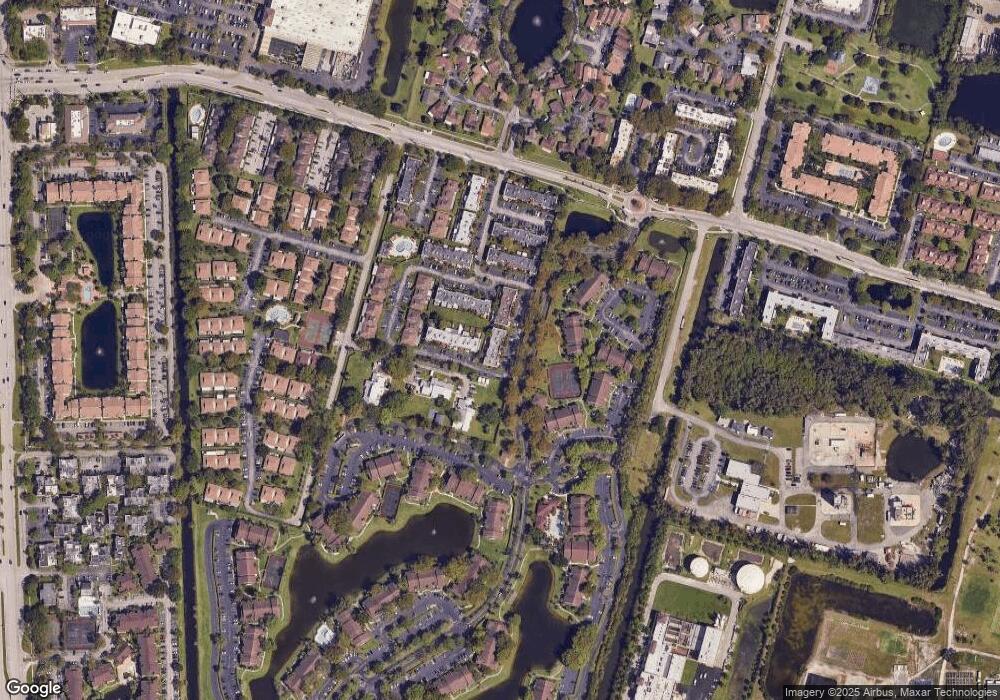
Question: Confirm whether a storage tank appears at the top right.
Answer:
No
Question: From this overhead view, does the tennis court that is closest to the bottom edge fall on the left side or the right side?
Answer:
left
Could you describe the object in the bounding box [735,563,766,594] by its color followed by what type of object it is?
white storage tank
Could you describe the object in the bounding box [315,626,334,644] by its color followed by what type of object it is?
white swimming pool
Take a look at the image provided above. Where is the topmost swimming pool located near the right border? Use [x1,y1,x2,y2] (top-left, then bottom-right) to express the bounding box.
[935,132,956,150]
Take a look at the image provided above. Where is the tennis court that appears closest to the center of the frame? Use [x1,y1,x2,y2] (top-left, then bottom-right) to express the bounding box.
[550,362,581,398]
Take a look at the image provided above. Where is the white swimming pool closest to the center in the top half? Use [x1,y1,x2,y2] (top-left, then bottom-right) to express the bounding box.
[390,235,416,257]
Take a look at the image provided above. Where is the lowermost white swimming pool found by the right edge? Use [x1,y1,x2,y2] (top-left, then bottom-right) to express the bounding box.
[939,357,963,376]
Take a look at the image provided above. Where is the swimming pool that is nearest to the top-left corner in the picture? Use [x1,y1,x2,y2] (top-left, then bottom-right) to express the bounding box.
[188,105,205,124]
